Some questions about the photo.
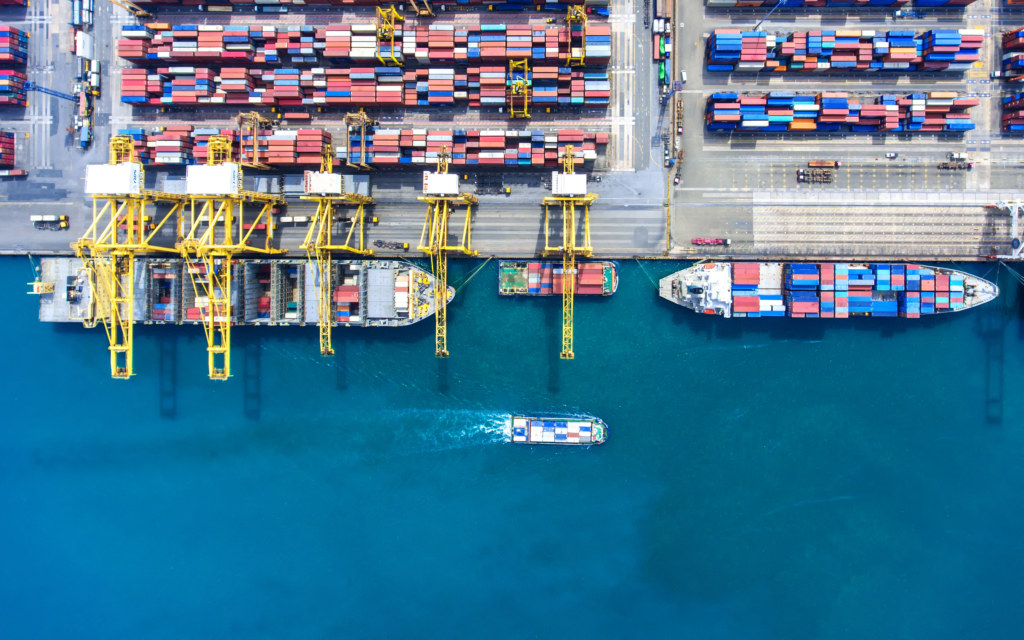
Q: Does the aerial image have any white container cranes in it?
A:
Yes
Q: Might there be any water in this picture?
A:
Yes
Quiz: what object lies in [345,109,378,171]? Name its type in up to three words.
container crane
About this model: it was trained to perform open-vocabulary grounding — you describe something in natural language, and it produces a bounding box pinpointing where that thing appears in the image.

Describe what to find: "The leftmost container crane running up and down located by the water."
[74,134,196,380]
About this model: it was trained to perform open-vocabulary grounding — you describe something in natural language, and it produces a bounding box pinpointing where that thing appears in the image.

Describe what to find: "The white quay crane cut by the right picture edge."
[980,197,1024,251]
